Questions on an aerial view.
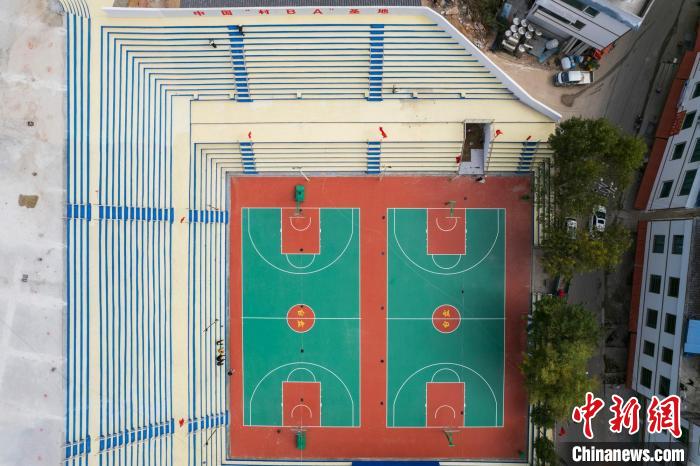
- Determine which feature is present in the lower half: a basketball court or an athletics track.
basketball court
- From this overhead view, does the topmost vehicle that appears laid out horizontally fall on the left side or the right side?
right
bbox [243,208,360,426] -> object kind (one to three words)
basketball court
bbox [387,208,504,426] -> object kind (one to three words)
basketball court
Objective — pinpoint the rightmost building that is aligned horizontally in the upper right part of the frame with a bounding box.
[526,0,656,55]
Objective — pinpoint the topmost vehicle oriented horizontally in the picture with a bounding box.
[550,68,594,88]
